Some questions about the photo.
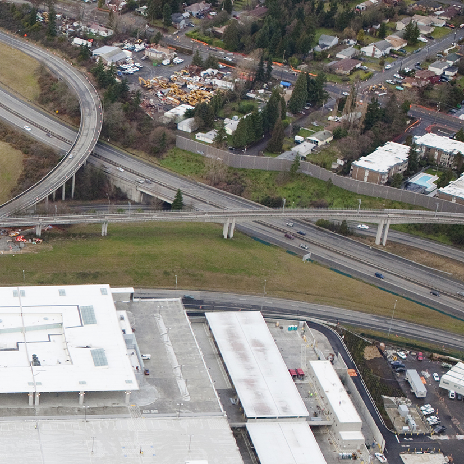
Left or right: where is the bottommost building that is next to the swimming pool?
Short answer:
right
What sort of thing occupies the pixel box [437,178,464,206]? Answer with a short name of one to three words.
building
